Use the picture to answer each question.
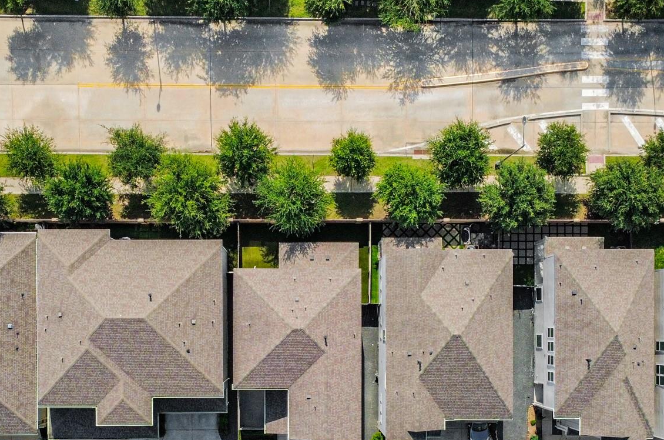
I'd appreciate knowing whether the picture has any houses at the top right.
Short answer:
No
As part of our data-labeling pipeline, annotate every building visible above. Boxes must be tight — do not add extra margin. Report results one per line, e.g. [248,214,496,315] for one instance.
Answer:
[36,228,228,440]
[233,242,362,440]
[381,236,514,440]
[531,236,655,440]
